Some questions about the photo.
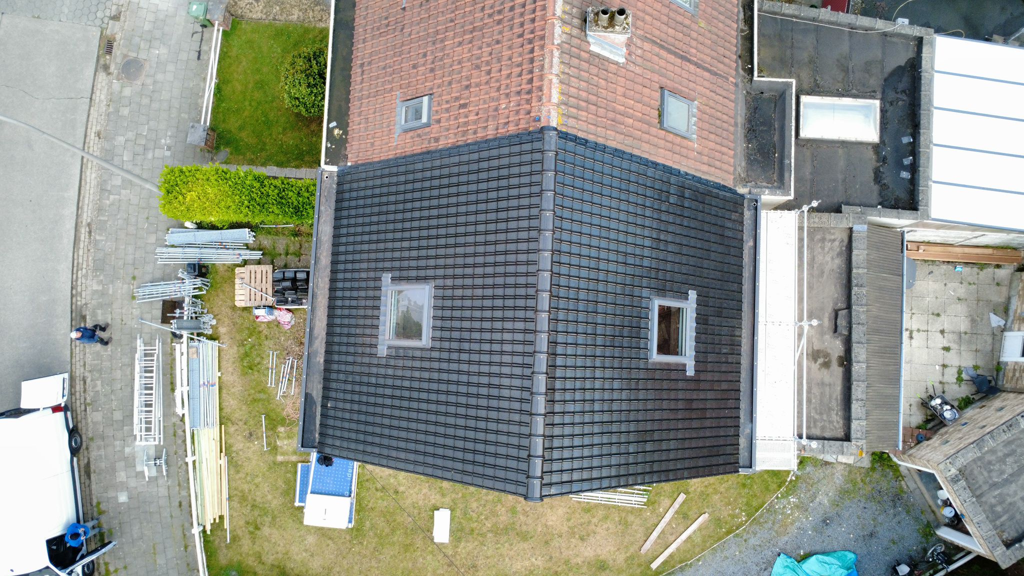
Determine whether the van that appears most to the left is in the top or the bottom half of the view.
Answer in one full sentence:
It is in the bottom half that the van that appears most to the left appears.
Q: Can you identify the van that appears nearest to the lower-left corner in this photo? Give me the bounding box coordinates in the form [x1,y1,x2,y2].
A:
[0,373,114,576]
